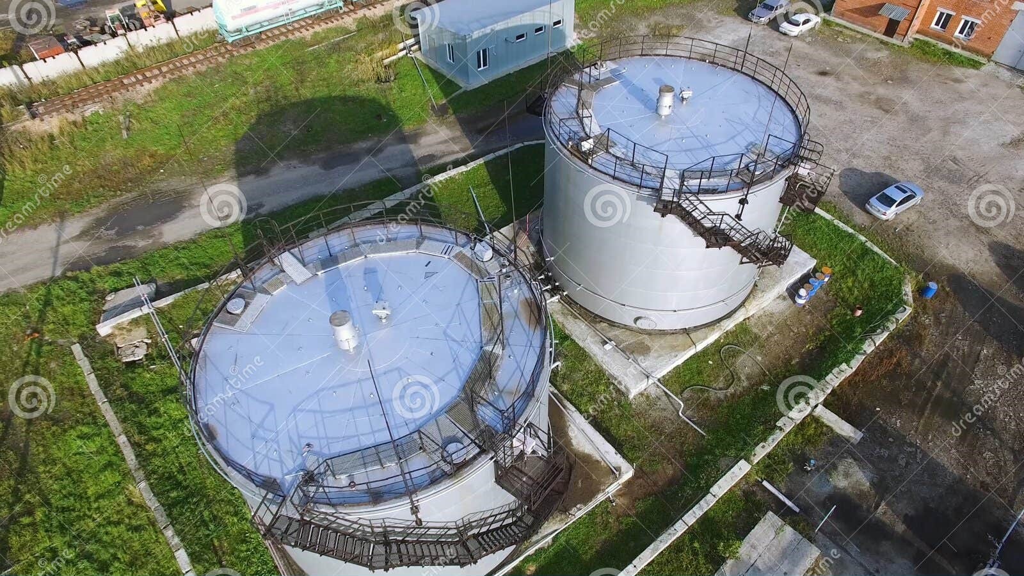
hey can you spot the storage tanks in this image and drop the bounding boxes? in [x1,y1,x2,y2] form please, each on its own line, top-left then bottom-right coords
[519,0,833,334]
[176,98,581,576]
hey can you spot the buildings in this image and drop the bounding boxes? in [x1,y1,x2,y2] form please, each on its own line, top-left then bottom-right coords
[14,25,67,63]
[820,0,1024,78]
[414,0,575,91]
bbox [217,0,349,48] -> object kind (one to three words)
rail car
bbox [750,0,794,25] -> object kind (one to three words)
car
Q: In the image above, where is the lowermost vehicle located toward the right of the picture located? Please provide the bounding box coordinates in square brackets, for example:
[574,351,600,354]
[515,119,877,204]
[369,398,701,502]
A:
[868,181,925,219]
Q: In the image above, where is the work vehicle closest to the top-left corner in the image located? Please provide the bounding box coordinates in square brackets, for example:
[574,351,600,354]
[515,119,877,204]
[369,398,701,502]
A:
[100,8,126,39]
